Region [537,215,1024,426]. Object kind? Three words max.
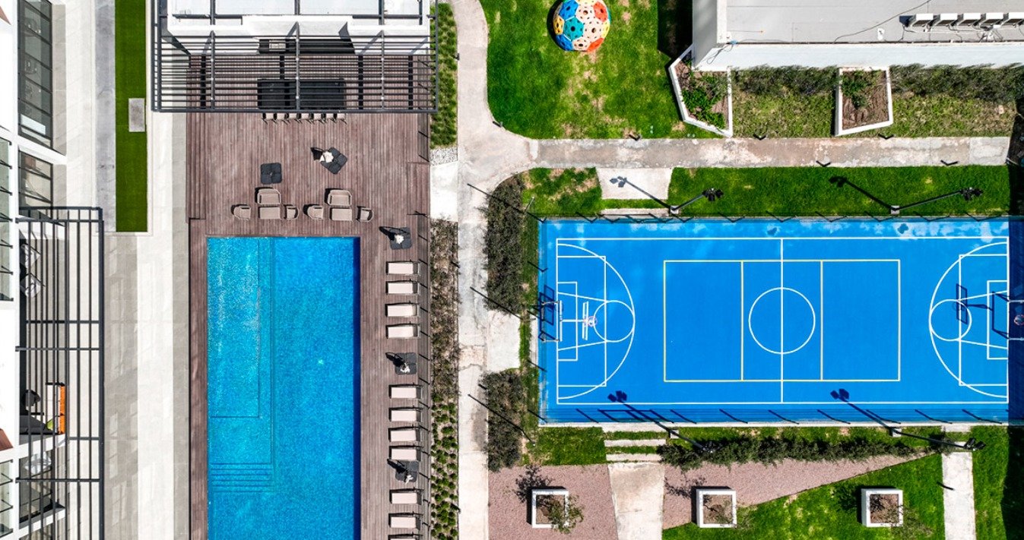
sports court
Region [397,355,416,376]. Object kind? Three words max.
umbrella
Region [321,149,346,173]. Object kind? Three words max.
umbrella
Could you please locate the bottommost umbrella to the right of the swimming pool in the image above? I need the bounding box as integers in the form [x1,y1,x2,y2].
[396,462,415,488]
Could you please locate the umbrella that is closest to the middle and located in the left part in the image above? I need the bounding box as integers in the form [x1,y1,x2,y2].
[391,229,410,248]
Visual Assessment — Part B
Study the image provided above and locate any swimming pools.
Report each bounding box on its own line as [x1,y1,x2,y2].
[206,235,363,540]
